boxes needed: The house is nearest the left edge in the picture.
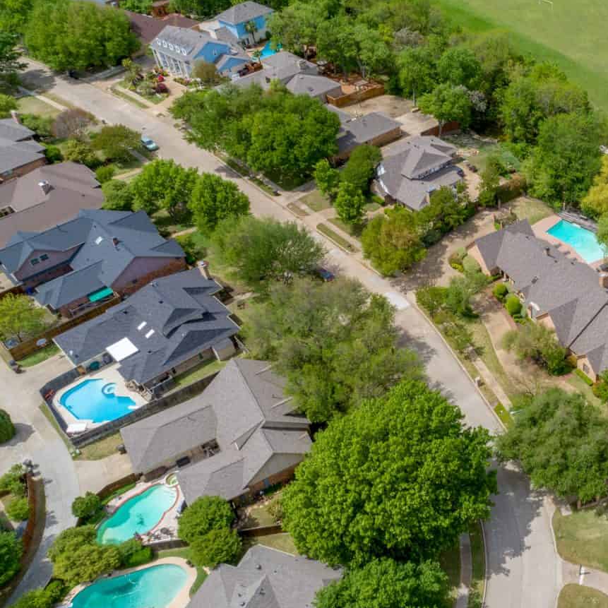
[0,108,47,178]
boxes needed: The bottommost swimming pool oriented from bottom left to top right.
[95,471,180,546]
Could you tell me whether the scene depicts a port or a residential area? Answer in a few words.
residential area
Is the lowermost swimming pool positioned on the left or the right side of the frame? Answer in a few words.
left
